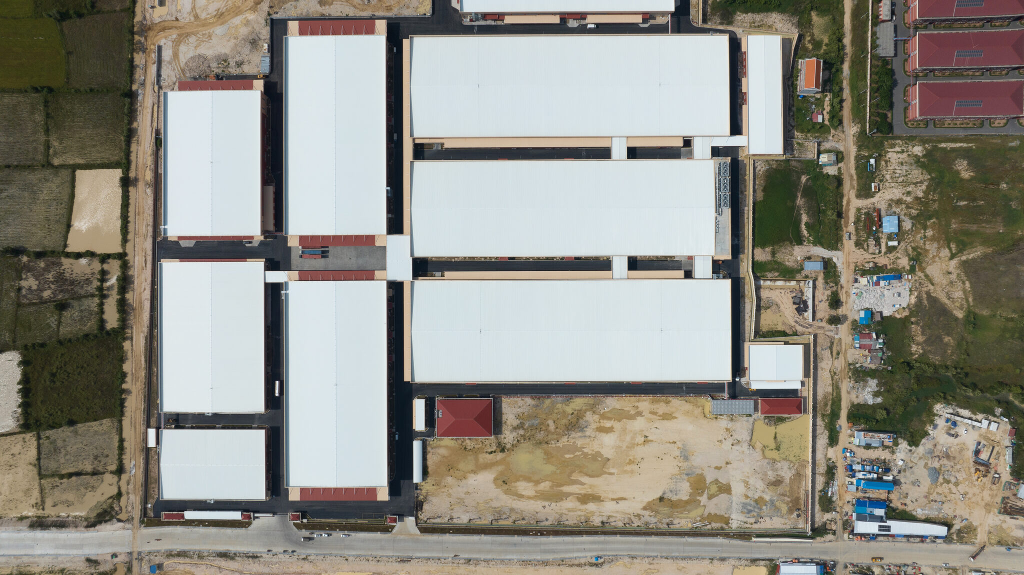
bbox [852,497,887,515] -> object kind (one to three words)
house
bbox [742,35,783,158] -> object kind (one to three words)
building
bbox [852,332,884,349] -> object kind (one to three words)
house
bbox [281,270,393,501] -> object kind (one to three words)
building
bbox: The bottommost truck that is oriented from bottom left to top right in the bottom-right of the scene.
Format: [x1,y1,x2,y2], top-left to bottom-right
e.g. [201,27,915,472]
[969,539,991,562]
